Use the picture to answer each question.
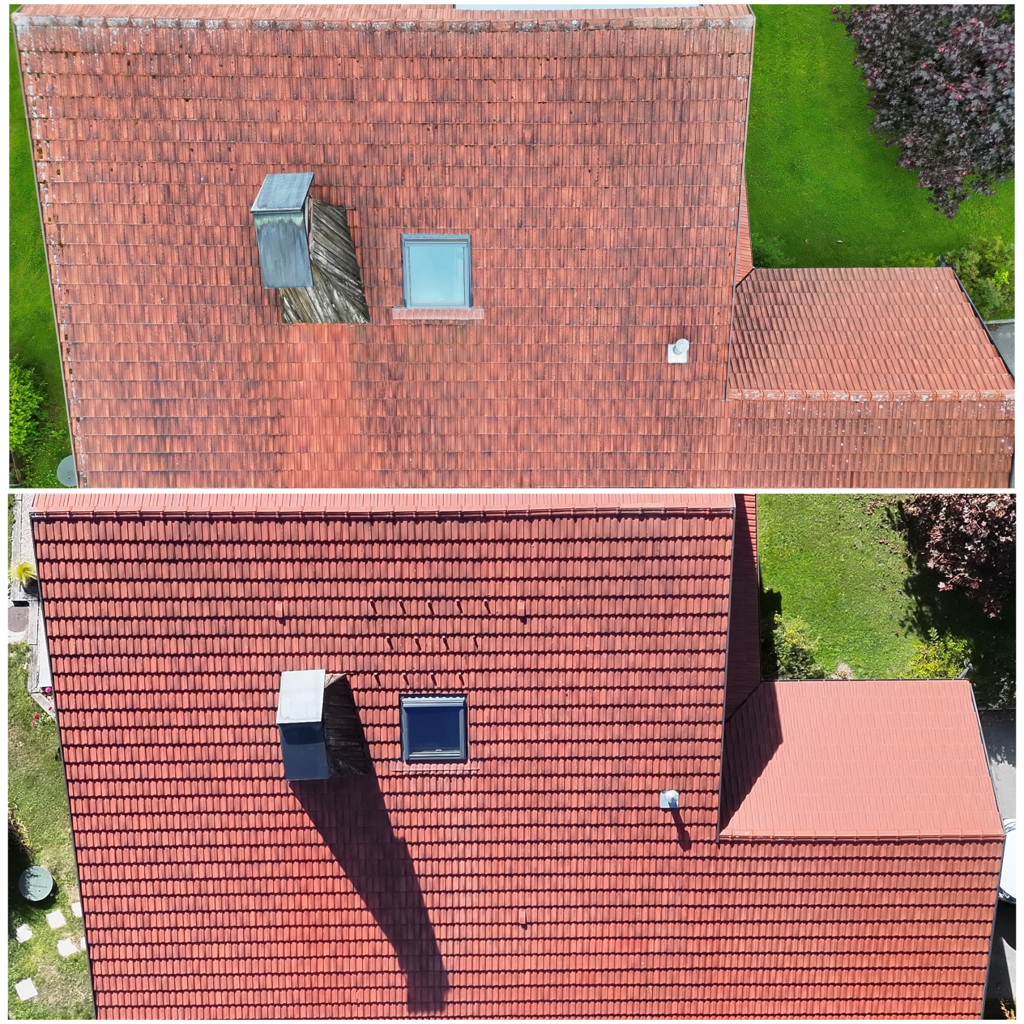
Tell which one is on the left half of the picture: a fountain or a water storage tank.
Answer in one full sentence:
What appears on the left half of the picture is a water storage tank.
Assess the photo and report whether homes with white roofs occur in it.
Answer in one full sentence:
No, I can't see a single home with a white roof in this photo.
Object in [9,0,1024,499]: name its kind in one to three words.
house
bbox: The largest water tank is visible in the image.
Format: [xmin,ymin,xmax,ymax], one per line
[19,866,61,904]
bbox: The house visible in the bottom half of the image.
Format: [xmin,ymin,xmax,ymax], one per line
[28,494,1015,1024]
